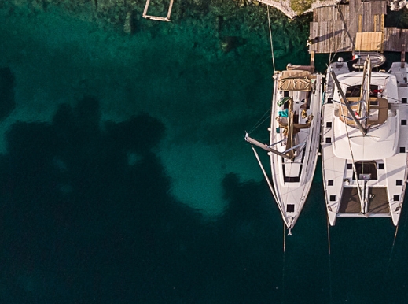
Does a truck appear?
No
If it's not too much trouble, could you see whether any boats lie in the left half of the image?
No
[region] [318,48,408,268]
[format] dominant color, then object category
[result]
white boat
